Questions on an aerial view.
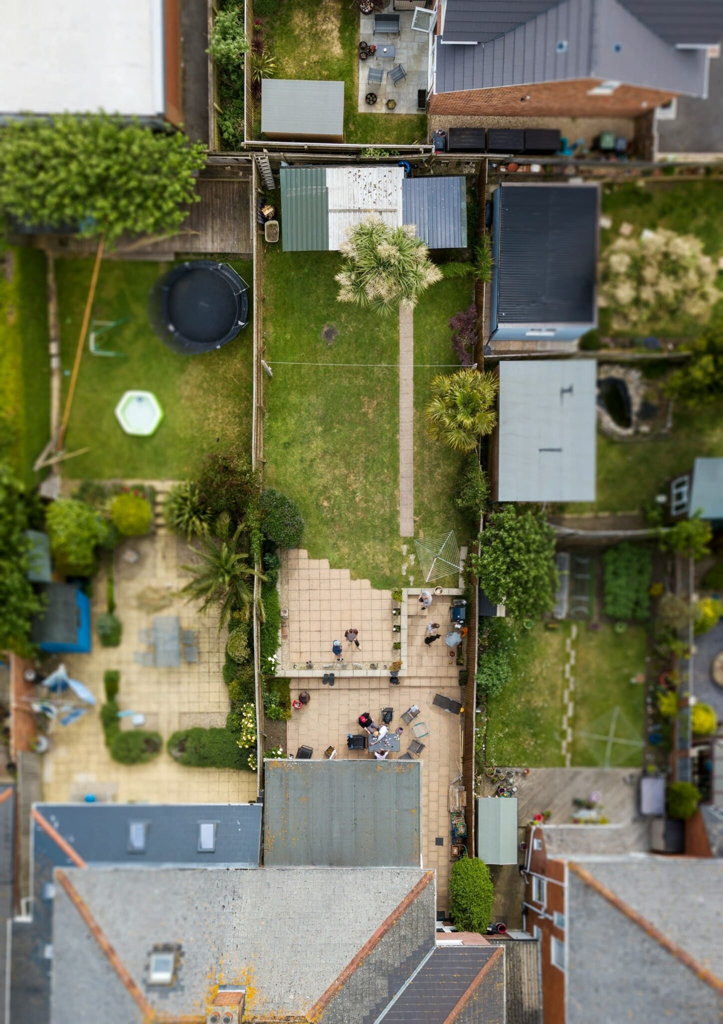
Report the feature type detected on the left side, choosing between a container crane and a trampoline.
trampoline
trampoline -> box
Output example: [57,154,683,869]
[153,249,249,351]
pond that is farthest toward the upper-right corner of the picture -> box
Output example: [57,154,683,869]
[597,363,648,437]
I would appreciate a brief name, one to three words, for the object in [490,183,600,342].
shed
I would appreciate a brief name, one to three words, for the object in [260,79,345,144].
shed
